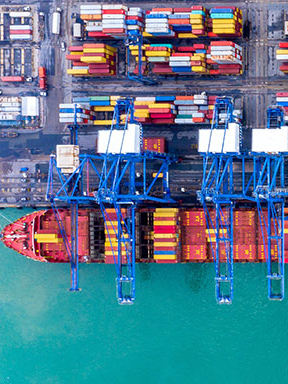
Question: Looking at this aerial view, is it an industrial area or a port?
port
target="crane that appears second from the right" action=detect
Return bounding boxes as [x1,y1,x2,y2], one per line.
[193,88,267,303]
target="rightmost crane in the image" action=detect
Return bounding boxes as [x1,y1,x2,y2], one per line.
[247,99,288,300]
